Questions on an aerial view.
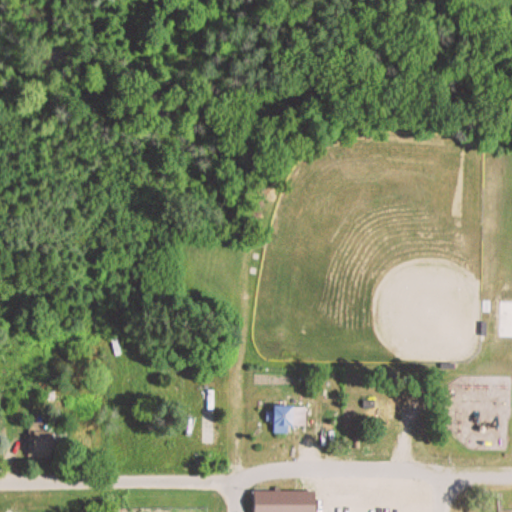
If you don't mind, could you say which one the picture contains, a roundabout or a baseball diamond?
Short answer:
baseball diamond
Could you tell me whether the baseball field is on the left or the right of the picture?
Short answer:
right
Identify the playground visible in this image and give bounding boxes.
[450,376,512,451]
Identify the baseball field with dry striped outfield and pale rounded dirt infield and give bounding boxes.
[255,140,483,362]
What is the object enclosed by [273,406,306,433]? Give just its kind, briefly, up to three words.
house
